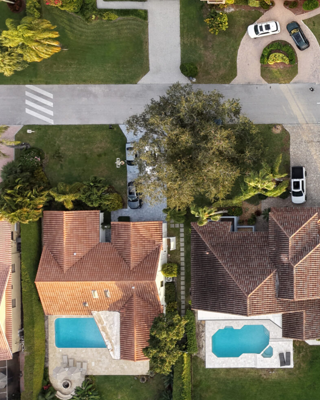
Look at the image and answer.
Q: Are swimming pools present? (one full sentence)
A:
Yes, you can see a swimming pool in this photo.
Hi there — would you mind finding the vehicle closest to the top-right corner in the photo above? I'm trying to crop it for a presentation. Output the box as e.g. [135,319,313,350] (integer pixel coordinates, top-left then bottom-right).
[287,20,311,52]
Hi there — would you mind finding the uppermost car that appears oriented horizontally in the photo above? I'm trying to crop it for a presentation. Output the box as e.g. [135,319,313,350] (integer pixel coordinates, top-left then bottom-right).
[249,20,281,39]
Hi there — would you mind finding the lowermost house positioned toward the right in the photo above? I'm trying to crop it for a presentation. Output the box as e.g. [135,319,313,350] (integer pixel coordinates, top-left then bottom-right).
[190,207,320,341]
